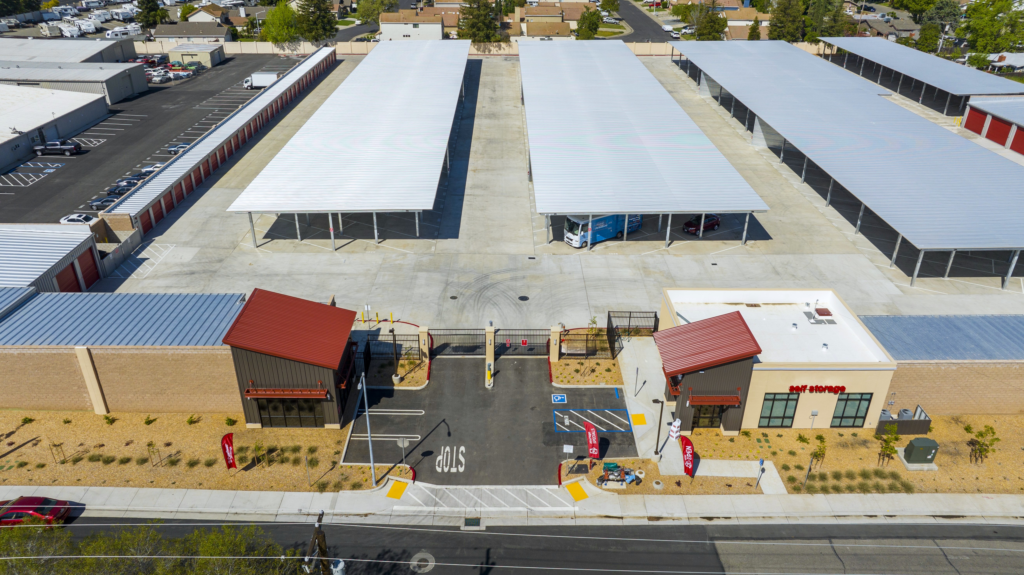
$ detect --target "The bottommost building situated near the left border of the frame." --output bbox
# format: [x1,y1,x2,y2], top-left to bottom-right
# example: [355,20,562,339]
[0,287,278,414]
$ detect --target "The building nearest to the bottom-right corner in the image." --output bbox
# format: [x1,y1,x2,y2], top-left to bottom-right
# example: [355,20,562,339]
[854,313,1024,415]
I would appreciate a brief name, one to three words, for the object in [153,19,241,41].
house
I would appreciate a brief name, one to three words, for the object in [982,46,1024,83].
house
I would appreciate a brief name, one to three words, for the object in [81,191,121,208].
car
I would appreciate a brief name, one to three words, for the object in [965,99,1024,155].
building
